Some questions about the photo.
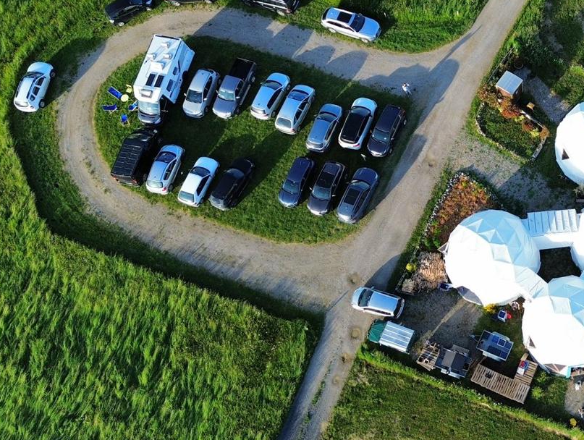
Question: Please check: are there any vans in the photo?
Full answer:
Yes, the photo shows a van.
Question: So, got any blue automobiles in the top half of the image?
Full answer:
Yes, a blue automobile can be seen in the top half of the image.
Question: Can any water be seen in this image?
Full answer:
No, there's no water in this view.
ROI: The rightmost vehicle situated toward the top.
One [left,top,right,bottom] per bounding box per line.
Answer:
[368,104,405,157]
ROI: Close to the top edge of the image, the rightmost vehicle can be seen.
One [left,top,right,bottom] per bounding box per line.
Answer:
[319,2,383,43]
